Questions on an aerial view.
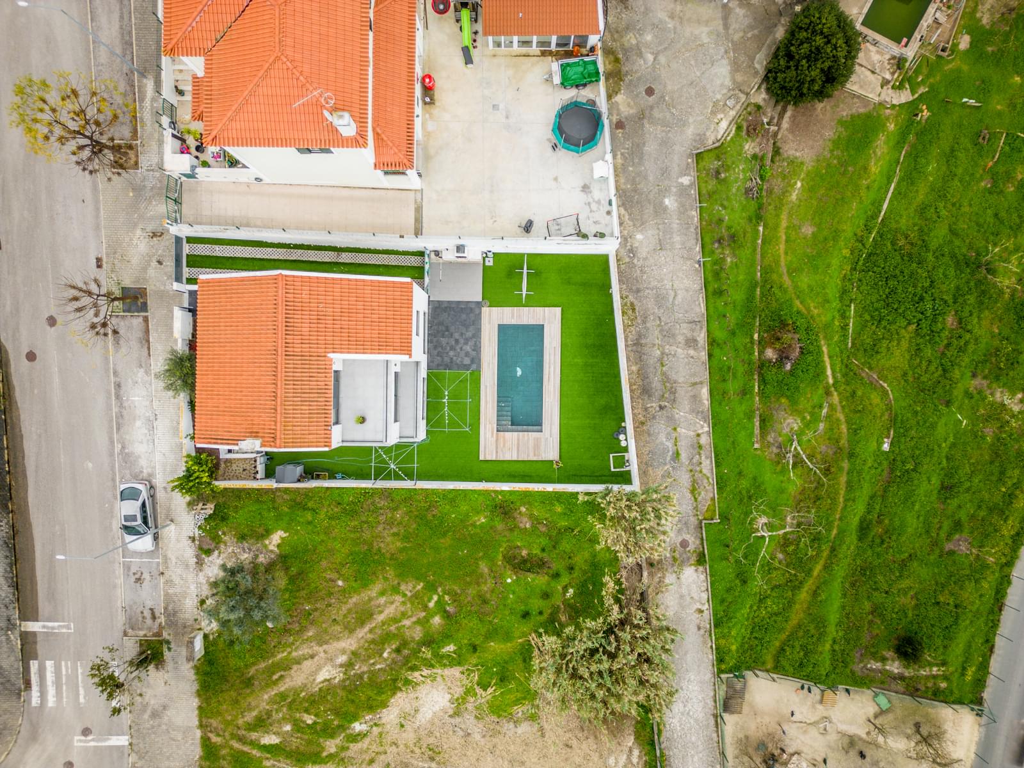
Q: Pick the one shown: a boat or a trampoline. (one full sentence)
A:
This aerial view contains a trampoline.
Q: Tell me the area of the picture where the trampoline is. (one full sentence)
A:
Look in the top portion of the view to spot the trampoline.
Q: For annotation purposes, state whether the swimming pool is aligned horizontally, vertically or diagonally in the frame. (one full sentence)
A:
The swimming pool has been laid out vertically relative to the frame.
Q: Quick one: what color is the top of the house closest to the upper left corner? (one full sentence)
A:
The roof of the house closest to the upper left corner is orange.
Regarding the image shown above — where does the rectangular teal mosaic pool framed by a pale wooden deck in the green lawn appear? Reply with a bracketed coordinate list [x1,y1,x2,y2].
[481,307,561,460]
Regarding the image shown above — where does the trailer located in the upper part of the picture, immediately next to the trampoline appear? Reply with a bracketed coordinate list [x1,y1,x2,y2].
[543,57,600,90]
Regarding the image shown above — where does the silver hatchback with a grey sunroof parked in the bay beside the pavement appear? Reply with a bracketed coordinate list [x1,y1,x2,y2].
[116,483,153,552]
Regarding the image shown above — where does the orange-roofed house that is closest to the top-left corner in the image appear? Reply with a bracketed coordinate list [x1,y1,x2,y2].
[160,0,422,188]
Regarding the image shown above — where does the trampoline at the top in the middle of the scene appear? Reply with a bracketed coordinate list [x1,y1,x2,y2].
[554,90,605,155]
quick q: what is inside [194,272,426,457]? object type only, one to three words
house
